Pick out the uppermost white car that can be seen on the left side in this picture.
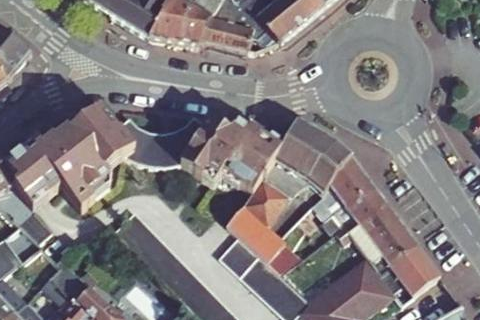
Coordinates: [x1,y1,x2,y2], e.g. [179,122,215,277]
[128,46,148,59]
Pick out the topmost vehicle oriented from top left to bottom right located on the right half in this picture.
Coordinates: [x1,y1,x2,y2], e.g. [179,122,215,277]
[360,122,380,138]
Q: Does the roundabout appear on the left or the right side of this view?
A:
right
